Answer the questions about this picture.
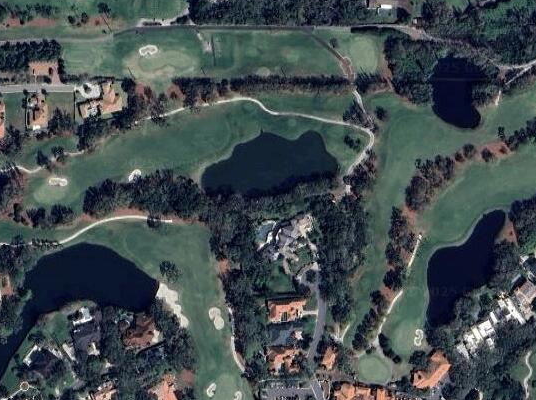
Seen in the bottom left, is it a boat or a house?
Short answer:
house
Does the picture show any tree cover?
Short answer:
Yes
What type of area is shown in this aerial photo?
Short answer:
golf course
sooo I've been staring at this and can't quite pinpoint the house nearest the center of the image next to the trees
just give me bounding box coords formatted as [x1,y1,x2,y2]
[264,214,316,260]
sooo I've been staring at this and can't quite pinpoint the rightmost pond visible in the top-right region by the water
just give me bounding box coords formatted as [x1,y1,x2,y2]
[432,57,483,129]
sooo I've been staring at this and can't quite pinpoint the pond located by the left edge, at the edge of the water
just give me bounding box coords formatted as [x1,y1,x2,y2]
[0,242,158,382]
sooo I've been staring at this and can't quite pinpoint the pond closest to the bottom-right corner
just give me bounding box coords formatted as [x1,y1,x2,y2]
[425,210,506,329]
